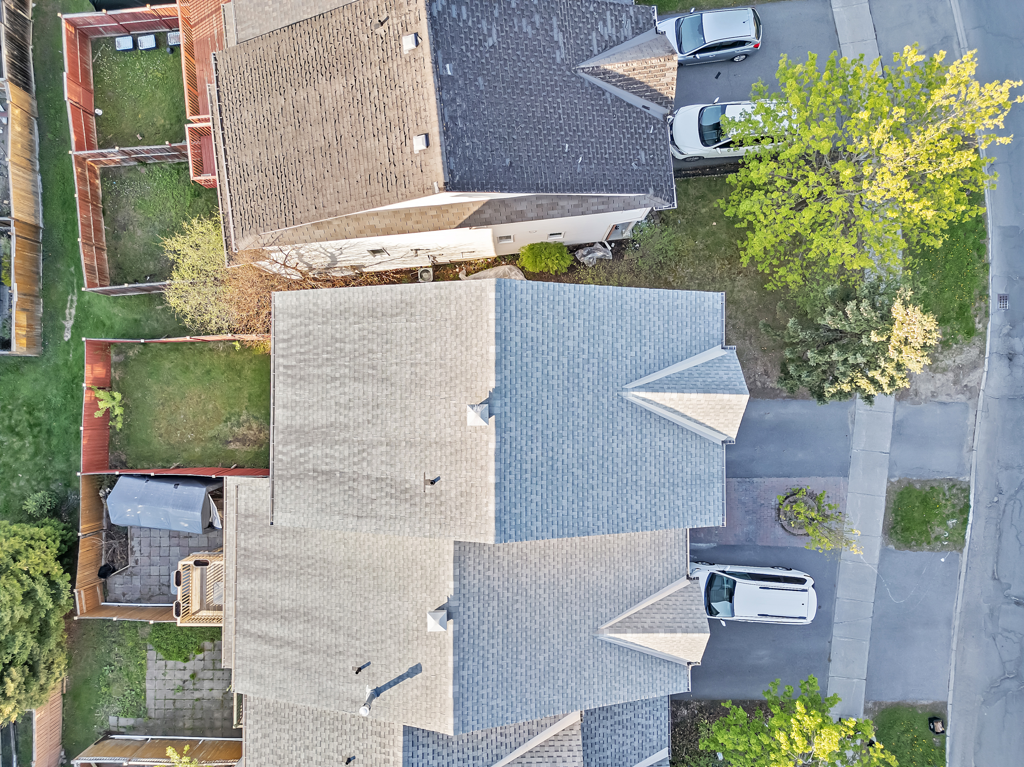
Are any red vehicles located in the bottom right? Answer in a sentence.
No, looking in the bottom right, there is no red vehicle.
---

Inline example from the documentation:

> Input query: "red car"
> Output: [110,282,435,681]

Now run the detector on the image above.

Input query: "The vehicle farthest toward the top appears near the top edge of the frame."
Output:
[660,0,760,60]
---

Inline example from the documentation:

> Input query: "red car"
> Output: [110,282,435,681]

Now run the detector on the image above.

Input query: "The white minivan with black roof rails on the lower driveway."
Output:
[691,558,816,625]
